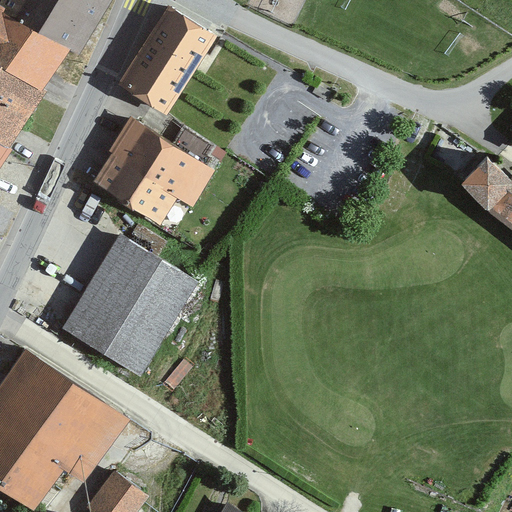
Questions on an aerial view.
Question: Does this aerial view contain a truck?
Yes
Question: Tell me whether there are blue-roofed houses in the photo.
No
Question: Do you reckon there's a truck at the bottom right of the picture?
No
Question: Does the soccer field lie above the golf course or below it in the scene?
above it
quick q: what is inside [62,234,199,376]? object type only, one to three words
barn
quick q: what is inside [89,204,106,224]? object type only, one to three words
car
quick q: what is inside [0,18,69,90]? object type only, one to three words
house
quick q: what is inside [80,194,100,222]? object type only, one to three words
vehicle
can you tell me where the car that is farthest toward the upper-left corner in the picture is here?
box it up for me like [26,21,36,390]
[12,141,34,160]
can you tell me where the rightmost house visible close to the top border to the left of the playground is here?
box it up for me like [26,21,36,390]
[118,4,218,113]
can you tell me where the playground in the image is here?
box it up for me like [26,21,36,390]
[242,0,306,24]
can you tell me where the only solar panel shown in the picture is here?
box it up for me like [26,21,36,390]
[175,54,202,92]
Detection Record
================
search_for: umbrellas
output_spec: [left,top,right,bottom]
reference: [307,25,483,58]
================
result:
[167,206,184,223]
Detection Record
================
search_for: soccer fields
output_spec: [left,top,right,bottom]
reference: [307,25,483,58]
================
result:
[291,0,512,82]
